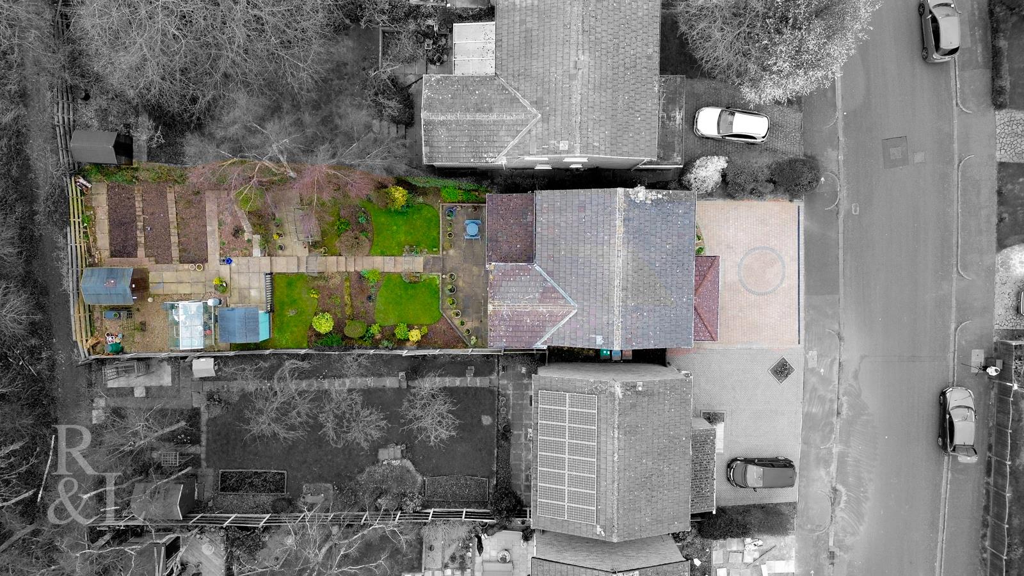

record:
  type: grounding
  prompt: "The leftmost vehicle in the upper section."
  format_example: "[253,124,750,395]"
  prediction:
[692,104,771,147]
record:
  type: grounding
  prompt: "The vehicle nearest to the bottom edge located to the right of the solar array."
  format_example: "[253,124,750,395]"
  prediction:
[725,456,797,494]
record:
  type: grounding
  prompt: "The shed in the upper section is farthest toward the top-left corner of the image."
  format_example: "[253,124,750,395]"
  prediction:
[67,131,132,169]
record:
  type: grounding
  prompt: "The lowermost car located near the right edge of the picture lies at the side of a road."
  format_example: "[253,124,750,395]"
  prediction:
[933,388,978,467]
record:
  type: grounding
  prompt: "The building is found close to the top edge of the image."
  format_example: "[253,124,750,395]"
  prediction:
[419,0,685,174]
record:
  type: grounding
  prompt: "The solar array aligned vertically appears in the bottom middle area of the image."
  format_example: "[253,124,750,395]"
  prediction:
[539,390,596,524]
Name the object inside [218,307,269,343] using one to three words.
shed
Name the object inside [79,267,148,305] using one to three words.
shed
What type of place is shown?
residential area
